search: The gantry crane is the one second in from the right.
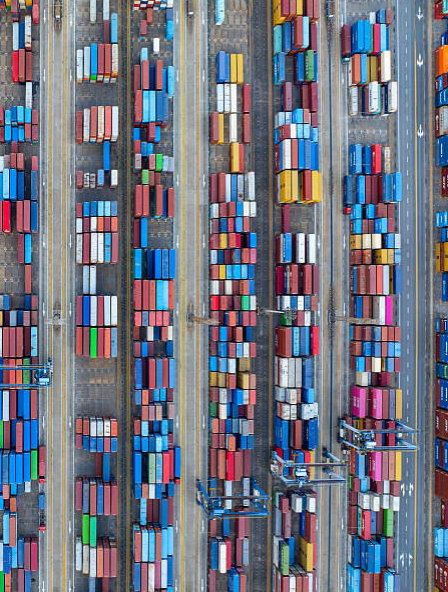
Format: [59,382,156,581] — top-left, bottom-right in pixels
[271,448,349,487]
